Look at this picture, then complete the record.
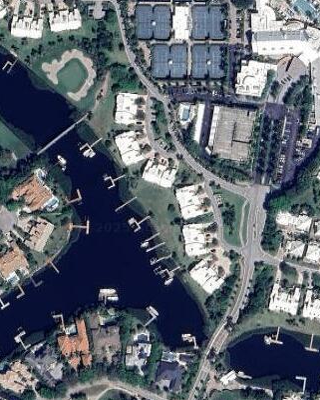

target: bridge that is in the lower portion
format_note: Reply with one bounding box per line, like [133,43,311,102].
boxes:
[201,321,232,365]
